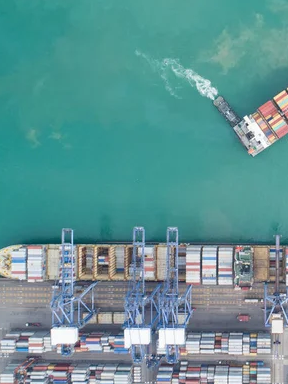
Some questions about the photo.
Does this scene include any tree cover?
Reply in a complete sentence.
No, the scene doesn't show any tree cover.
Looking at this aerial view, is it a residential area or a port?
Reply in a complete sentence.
The picture captures a port.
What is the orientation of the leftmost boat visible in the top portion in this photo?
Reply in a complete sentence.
The leftmost boat visible in the top portion has been laid out on a diagonal relative to the frame.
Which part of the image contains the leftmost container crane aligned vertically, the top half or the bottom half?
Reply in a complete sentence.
You can find the leftmost container crane aligned vertically in the bottom half.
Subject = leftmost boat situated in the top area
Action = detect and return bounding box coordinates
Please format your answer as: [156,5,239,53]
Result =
[211,97,239,127]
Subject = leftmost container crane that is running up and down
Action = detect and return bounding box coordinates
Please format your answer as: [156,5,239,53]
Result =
[50,227,107,359]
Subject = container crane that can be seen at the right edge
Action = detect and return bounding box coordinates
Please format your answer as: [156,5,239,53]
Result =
[260,235,288,362]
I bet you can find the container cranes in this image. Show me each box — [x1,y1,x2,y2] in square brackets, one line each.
[260,235,288,362]
[14,358,40,384]
[50,227,107,359]
[123,226,170,364]
[158,226,201,365]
